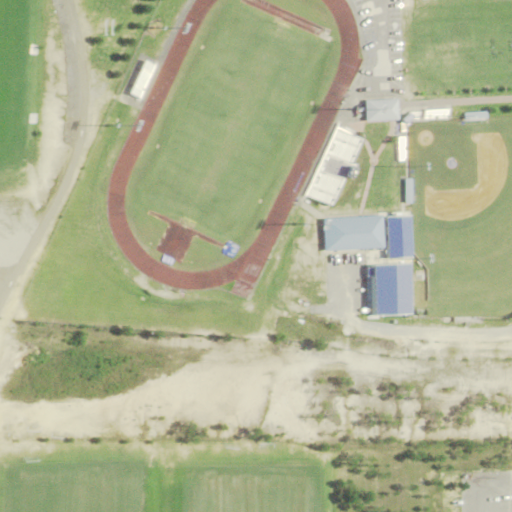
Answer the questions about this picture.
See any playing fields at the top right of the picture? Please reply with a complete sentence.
Yes, you'll find a playing field at the top right of the picture.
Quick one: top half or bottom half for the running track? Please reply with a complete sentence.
It is in the top half that the running track appears.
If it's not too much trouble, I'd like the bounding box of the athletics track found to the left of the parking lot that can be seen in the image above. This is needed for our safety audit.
[109,0,363,299]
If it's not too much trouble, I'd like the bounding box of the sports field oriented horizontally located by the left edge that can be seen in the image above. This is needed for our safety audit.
[0,456,148,512]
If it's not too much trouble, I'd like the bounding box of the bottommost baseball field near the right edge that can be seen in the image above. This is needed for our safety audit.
[408,114,512,318]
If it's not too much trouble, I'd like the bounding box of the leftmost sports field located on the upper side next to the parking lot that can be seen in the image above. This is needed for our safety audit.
[125,0,341,272]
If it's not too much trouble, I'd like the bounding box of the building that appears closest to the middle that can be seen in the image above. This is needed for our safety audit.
[323,216,386,250]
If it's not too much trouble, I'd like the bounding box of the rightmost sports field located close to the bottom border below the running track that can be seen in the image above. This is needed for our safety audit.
[182,458,330,512]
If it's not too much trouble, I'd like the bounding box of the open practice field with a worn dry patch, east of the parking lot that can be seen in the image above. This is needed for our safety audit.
[412,0,512,86]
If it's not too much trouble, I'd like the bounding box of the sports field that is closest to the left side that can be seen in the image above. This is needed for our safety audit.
[0,0,30,163]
